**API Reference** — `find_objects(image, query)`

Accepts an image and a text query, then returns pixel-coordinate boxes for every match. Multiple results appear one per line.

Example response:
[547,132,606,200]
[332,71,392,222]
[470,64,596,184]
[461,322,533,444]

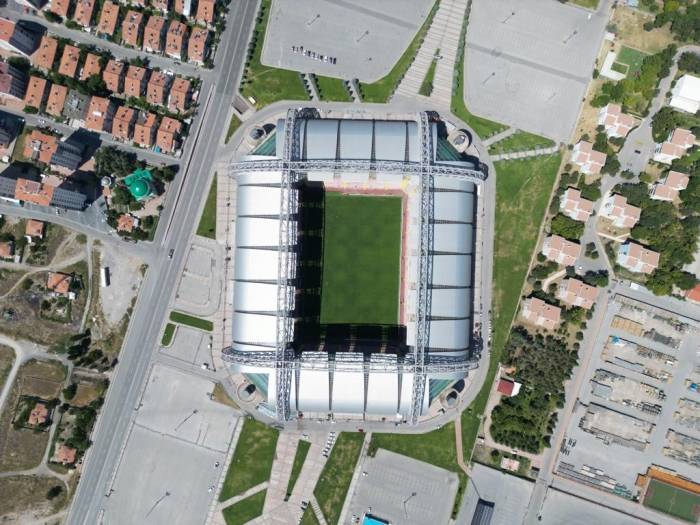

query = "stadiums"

[223,110,485,421]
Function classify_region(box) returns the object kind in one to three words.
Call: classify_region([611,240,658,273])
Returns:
house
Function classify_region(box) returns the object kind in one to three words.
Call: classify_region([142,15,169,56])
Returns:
house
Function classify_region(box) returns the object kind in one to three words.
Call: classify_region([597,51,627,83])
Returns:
building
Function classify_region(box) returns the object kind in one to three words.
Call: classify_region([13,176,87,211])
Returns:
building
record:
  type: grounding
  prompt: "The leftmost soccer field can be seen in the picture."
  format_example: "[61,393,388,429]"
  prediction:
[293,183,411,348]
